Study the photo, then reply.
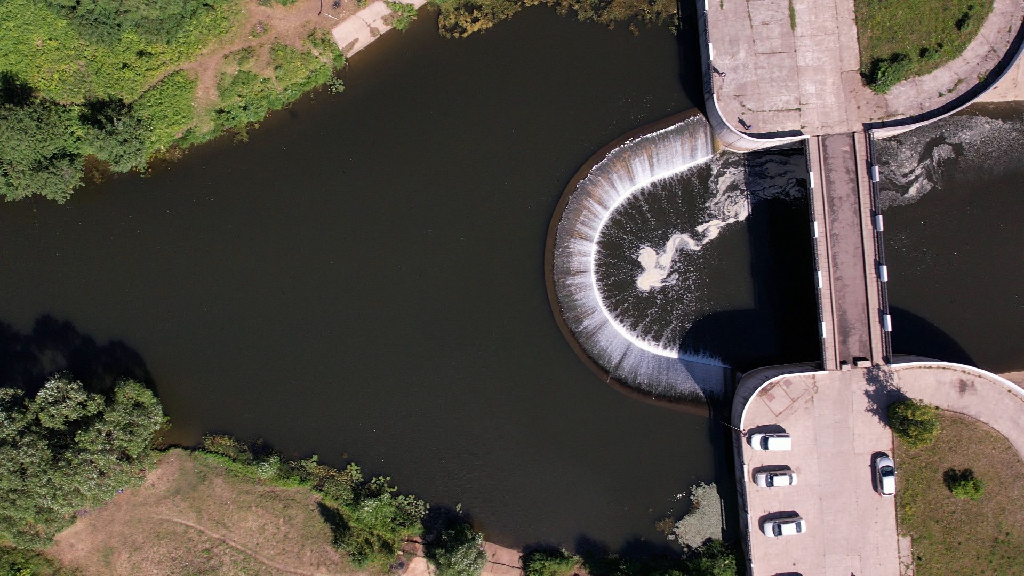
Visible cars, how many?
4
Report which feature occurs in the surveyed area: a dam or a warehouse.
dam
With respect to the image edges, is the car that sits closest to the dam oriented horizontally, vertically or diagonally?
horizontally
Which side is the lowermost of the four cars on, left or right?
right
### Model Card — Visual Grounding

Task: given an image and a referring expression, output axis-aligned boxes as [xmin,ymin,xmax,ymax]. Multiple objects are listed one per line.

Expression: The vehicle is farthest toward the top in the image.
[751,432,794,452]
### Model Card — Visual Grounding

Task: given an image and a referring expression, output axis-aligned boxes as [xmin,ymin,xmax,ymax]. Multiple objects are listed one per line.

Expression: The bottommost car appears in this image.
[764,514,808,537]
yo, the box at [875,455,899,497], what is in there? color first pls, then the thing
white car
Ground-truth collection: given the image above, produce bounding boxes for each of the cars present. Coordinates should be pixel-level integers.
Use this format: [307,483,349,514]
[755,469,798,489]
[764,514,808,537]
[875,455,899,497]
[751,432,794,452]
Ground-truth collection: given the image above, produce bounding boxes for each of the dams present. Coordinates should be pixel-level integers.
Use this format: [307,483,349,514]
[544,106,749,428]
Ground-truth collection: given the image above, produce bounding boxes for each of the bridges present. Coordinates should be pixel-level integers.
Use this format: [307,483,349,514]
[806,129,890,371]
